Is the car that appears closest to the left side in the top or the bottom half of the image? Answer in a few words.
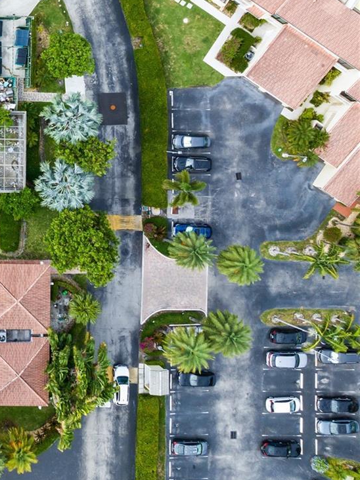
bottom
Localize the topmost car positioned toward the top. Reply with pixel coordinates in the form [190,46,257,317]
[172,132,209,150]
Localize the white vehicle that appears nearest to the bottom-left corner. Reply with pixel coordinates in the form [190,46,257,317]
[111,364,131,405]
